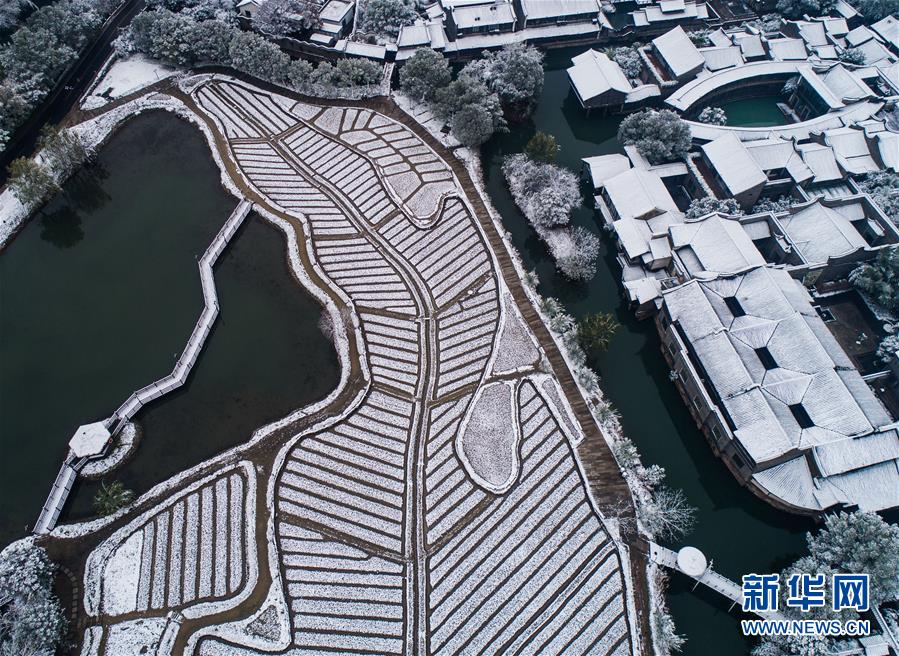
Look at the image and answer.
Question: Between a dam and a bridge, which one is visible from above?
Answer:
bridge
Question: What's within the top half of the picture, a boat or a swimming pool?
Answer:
swimming pool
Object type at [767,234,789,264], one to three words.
shed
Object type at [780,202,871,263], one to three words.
building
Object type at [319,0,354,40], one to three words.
house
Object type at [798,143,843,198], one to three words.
house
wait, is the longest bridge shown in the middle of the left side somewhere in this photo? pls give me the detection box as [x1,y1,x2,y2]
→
[97,192,254,435]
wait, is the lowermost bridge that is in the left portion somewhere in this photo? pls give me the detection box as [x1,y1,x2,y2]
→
[25,440,83,532]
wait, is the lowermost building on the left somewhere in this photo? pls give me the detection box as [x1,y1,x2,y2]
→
[68,422,125,471]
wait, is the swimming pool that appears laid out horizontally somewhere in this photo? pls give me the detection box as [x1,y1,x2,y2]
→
[688,91,795,127]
